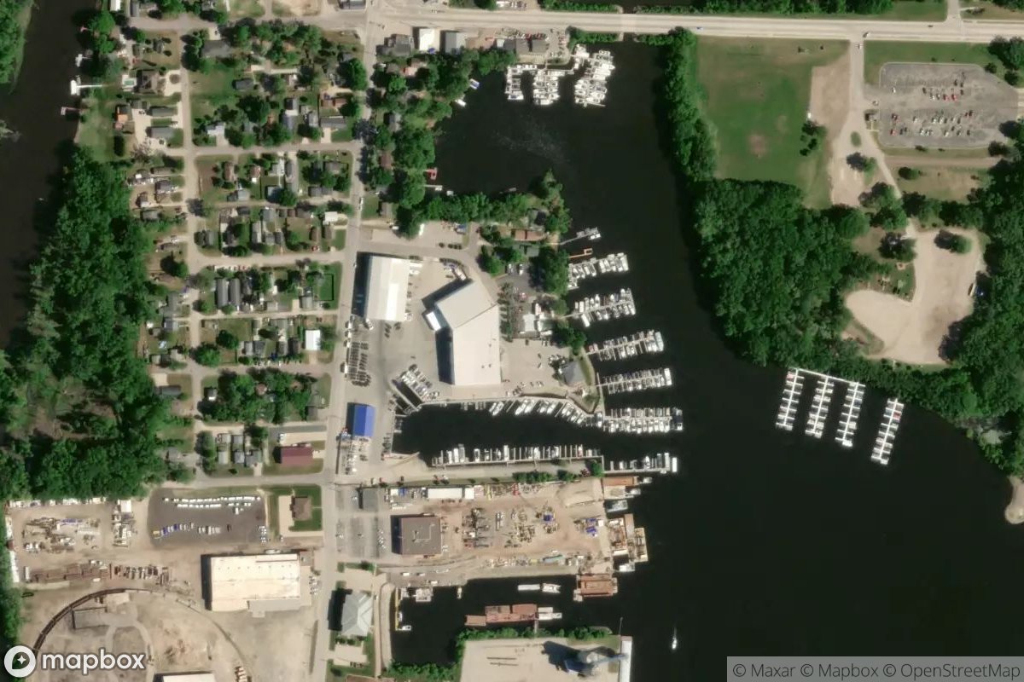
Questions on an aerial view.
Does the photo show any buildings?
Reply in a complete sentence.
Yes, a building appears in the view.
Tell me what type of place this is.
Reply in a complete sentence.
The picture captures a port.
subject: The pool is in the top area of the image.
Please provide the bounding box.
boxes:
[122,75,136,90]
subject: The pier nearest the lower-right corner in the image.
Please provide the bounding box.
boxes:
[872,399,904,462]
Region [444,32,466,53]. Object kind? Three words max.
building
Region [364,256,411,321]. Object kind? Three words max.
shed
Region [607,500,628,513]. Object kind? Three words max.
vessel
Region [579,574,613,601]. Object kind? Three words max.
ship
